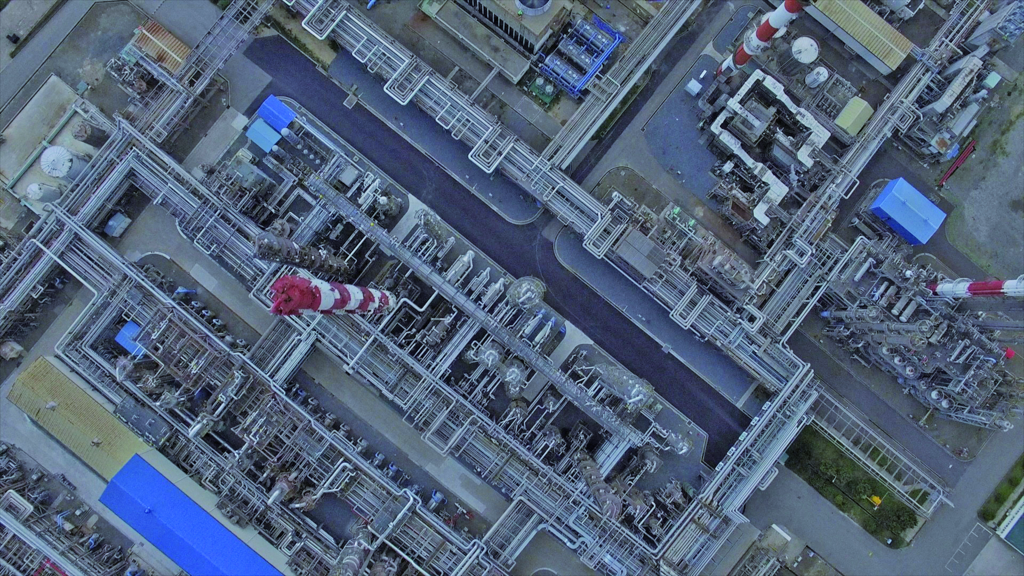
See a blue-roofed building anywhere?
Yes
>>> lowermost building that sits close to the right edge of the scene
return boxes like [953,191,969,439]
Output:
[991,519,1024,562]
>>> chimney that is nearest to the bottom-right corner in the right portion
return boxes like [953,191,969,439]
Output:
[924,278,1024,301]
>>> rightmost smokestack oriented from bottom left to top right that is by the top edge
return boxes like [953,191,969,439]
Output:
[710,0,810,79]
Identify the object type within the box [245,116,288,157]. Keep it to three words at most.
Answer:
shed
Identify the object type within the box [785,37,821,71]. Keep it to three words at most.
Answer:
storage tank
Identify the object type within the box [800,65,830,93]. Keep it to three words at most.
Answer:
storage tank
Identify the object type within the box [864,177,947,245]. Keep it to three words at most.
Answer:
building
